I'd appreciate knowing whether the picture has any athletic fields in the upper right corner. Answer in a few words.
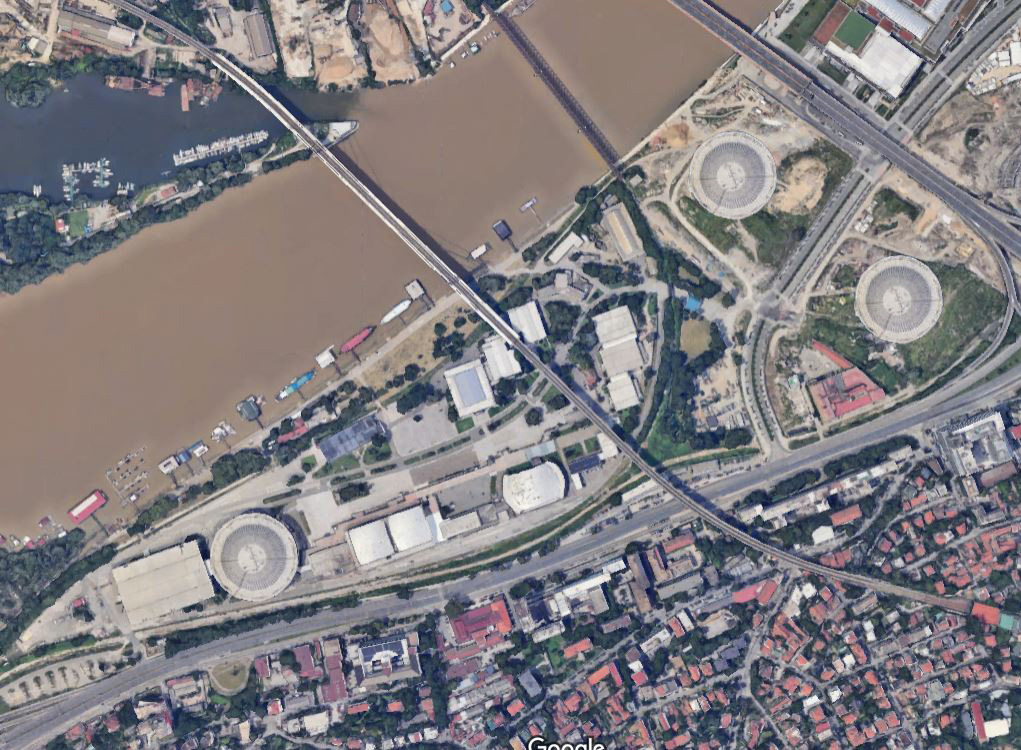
Yes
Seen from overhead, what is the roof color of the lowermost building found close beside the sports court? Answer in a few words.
white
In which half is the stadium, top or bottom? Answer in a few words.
bottom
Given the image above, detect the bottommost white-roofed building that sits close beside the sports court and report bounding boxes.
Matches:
[825,26,925,98]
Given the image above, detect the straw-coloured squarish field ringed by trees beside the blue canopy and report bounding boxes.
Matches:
[680,322,711,357]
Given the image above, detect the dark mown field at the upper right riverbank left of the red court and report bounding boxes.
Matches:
[780,0,837,52]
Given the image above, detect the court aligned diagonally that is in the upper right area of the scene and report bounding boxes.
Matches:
[814,1,851,44]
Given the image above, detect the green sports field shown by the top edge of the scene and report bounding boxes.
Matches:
[836,11,874,49]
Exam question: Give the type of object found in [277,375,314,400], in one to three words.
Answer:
boat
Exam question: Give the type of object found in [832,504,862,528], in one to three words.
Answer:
house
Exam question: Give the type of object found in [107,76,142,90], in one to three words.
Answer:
ship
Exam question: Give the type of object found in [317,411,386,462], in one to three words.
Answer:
building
